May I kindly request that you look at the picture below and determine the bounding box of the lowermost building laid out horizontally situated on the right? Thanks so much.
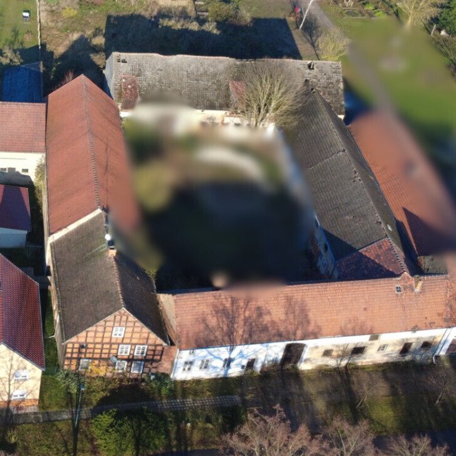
[156,272,446,376]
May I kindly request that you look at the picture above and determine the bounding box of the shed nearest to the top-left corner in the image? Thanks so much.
[1,64,43,104]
